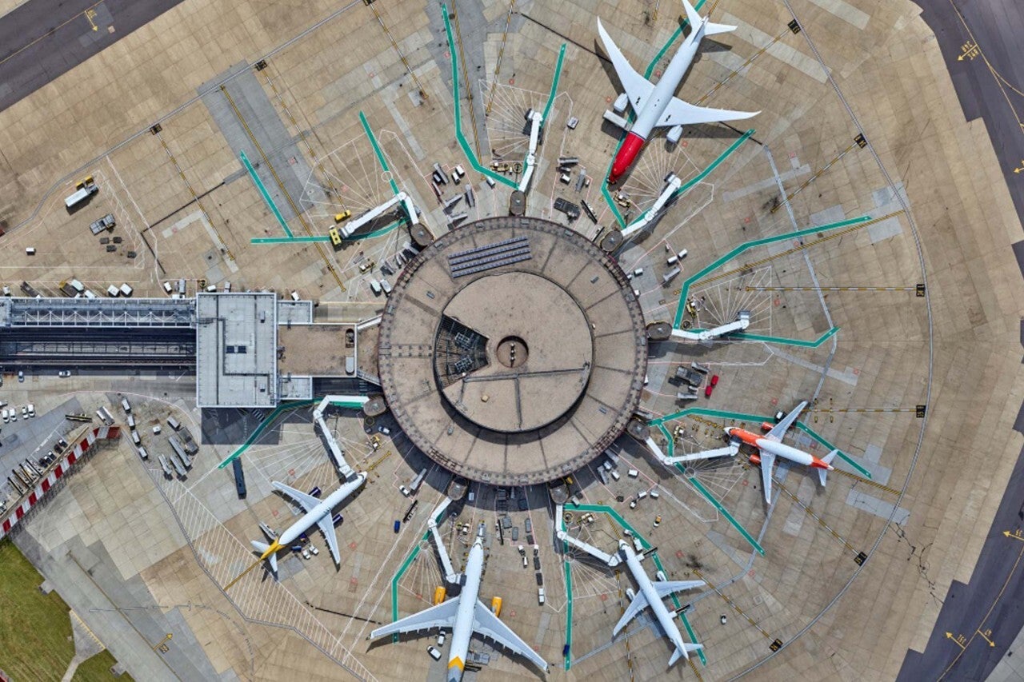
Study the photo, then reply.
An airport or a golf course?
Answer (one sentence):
The picture captures an airport.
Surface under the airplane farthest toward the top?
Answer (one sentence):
You can see the airplane farthest toward the top positioned on the apron.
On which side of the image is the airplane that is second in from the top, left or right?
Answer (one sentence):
The airplane that is second in from the top is on the right side of the image.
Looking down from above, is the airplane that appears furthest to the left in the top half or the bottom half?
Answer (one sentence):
Seen from above, the airplane that appears furthest to the left lies in the bottom half of the view.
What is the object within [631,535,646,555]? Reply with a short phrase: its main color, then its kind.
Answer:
white vehicle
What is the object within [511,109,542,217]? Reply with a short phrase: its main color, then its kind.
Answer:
white jet bridge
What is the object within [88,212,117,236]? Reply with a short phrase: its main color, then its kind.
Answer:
gray work vehicle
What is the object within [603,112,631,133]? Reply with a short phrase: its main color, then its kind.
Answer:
white truck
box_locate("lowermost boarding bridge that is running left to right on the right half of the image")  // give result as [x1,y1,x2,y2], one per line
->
[625,419,743,467]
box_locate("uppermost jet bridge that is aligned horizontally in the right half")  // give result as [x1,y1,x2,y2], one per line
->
[645,309,751,342]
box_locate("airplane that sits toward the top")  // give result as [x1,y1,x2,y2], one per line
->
[600,0,760,183]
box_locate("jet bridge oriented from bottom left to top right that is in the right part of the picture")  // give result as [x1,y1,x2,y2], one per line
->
[599,168,683,254]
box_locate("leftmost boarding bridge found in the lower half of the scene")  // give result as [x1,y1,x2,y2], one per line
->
[312,393,388,486]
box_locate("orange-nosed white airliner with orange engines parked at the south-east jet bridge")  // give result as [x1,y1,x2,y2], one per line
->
[725,403,840,506]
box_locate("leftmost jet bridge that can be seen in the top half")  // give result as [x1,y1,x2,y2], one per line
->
[336,190,434,249]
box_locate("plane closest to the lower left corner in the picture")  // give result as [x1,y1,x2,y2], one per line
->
[249,473,366,572]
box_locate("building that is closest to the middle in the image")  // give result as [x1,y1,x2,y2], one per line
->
[378,217,647,485]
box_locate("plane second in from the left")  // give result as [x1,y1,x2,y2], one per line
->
[372,538,547,682]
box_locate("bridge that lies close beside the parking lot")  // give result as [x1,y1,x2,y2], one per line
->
[0,328,196,365]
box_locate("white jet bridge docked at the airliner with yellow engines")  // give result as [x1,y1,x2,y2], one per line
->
[428,476,469,588]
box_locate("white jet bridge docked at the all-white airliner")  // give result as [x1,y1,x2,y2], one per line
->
[549,476,628,567]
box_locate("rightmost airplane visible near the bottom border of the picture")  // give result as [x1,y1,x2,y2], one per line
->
[615,540,706,669]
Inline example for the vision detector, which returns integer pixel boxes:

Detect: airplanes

[372,538,547,682]
[615,540,706,669]
[249,473,366,572]
[600,0,760,183]
[725,403,840,506]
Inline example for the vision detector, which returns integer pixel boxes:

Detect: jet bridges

[511,109,542,217]
[549,476,628,567]
[625,419,743,467]
[428,476,469,588]
[645,309,751,342]
[336,190,434,249]
[312,393,388,486]
[599,168,683,254]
